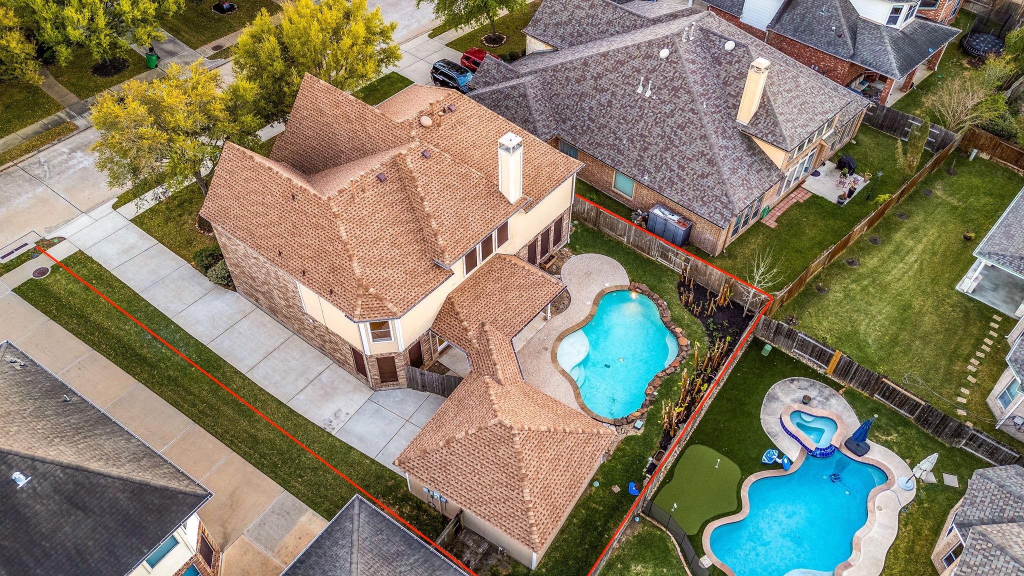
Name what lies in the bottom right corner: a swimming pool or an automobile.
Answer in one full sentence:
What appears in the bottom right corner is a swimming pool.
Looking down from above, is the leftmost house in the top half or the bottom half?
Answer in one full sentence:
The leftmost house sits in the bottom half of the picture.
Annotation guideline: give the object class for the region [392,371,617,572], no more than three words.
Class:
building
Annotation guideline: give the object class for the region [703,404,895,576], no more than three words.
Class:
swimming pool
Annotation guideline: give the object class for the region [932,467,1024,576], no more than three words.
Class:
house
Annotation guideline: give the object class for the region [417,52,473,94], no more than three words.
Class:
car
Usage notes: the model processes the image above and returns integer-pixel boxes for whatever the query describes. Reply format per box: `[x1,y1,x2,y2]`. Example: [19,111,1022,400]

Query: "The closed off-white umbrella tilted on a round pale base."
[894,454,932,492]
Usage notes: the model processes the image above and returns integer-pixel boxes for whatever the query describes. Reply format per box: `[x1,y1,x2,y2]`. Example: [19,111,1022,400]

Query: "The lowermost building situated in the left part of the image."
[276,490,477,576]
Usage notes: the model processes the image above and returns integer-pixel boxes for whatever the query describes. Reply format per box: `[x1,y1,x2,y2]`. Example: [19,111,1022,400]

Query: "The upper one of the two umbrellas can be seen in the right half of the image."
[843,414,878,457]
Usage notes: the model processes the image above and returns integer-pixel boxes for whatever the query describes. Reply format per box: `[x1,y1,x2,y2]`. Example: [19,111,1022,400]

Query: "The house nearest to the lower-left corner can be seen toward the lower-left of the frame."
[0,340,224,576]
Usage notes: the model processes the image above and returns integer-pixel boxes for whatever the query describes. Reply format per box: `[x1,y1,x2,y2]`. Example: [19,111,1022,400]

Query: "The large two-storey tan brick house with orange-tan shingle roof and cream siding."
[198,72,587,392]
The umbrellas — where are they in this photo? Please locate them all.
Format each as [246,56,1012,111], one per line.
[843,414,878,457]
[894,454,932,492]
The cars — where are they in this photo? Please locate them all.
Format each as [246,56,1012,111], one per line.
[417,52,473,94]
[453,44,488,75]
